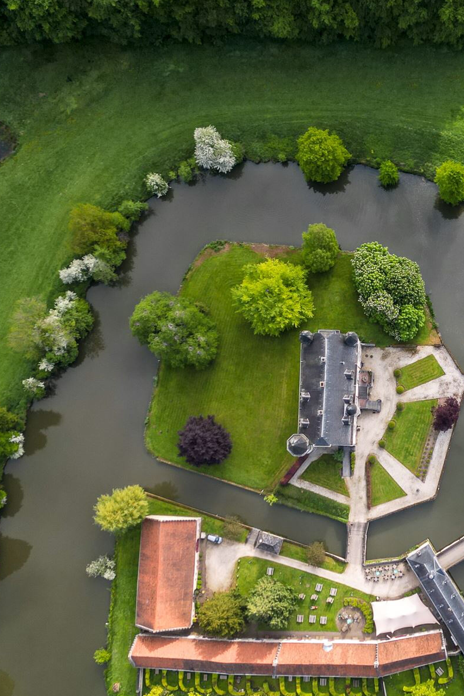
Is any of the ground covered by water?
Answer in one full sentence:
Yes, there's water in this view.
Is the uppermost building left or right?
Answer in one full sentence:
The uppermost building is on the right side of the image.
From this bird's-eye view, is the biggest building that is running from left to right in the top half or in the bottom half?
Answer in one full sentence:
The biggest building that is running from left to right sits in the bottom half of the picture.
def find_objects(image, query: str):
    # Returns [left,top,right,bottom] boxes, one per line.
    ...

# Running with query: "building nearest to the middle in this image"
[287,330,362,456]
